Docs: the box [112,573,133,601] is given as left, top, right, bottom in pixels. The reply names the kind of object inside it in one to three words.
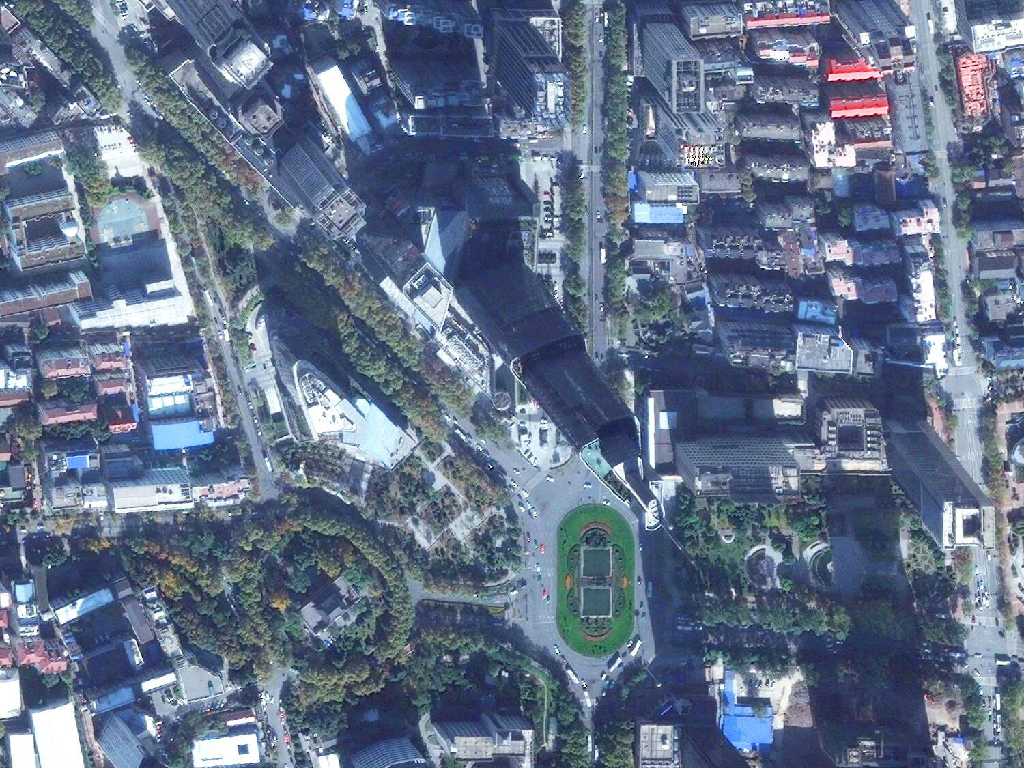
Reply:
shed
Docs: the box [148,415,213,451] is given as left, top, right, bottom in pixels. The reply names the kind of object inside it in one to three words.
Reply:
building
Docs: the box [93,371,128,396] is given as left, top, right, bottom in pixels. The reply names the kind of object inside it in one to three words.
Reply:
house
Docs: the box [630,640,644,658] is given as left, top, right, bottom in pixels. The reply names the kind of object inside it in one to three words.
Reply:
vehicle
